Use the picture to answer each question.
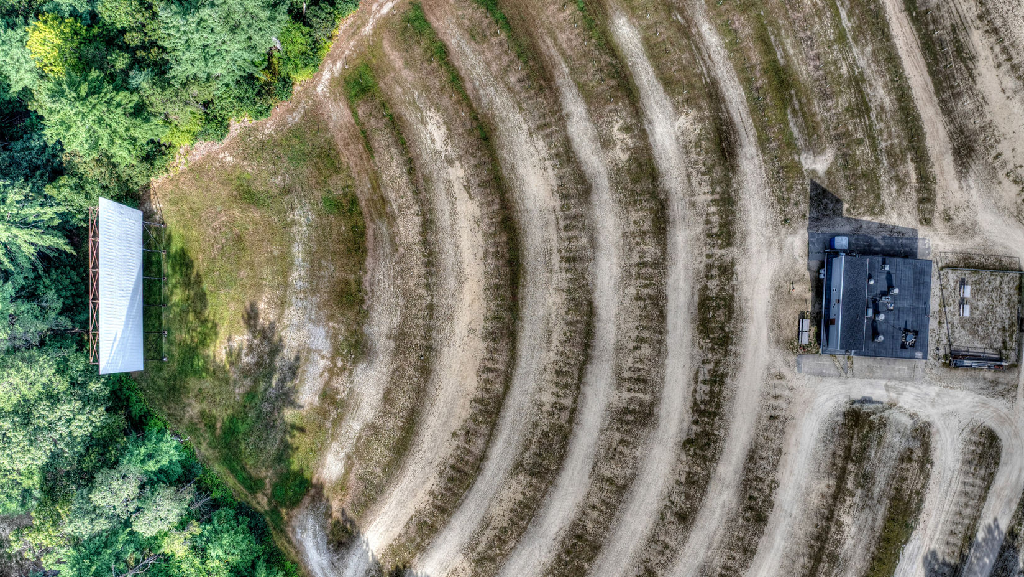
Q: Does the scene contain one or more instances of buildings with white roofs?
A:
No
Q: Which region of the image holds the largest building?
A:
right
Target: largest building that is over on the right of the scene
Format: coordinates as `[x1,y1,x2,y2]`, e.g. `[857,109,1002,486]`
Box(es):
[816,250,932,359]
